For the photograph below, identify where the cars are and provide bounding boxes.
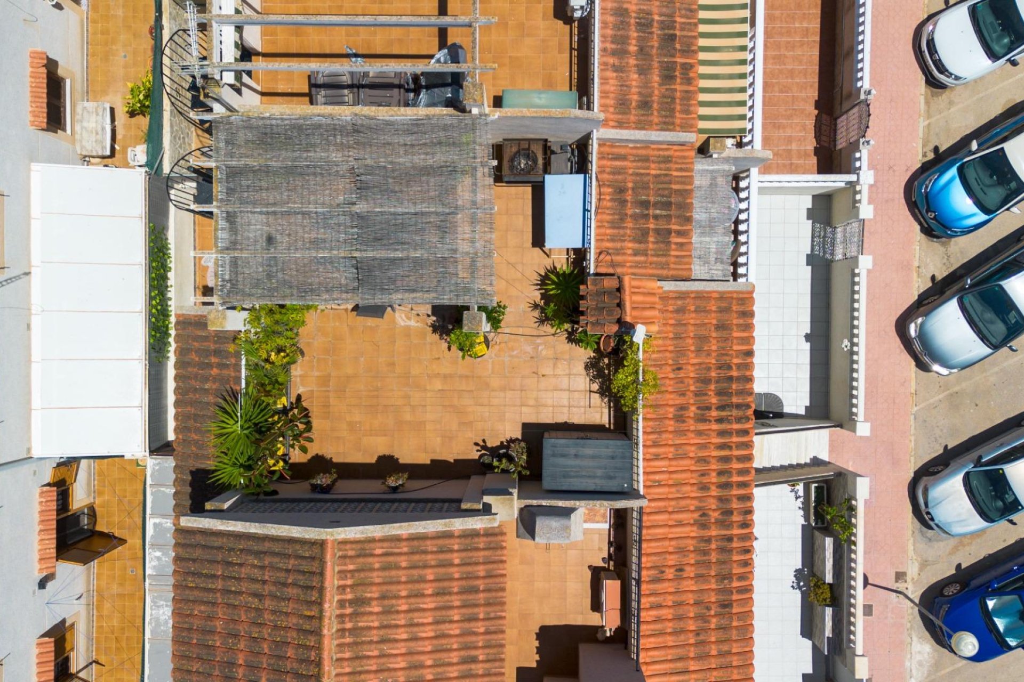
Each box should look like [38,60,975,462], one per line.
[915,432,1024,545]
[900,251,1024,381]
[909,126,1024,243]
[927,555,1024,663]
[915,0,1024,88]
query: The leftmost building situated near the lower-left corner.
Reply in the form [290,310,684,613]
[0,459,125,682]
